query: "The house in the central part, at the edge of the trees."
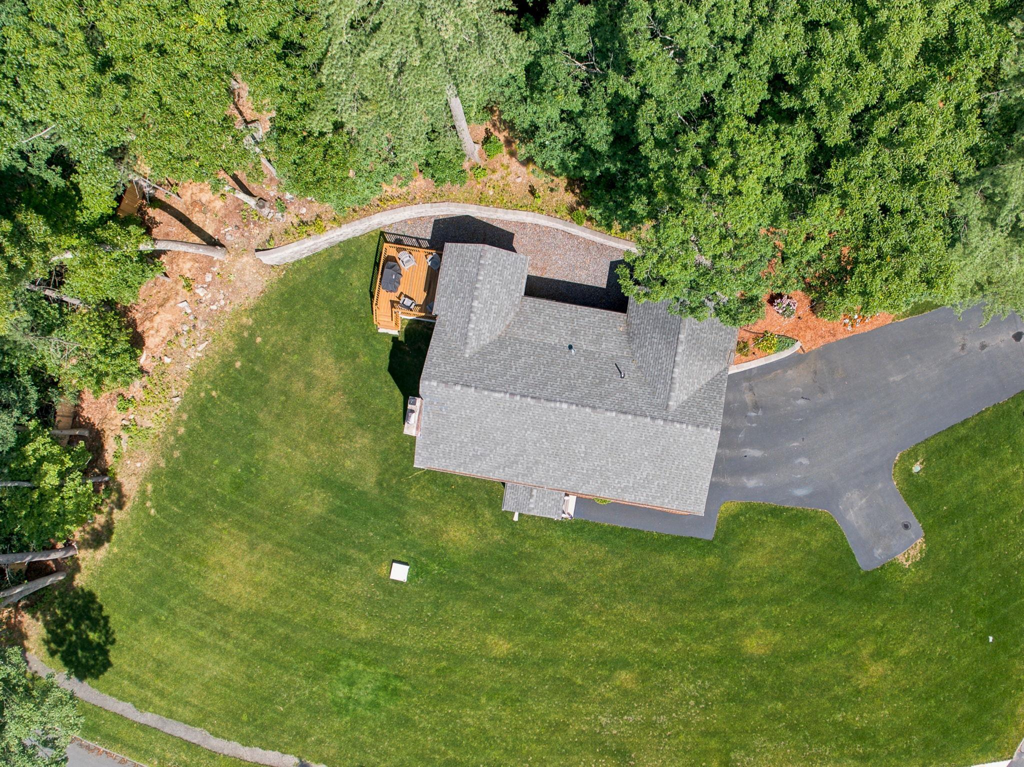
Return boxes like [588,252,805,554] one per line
[403,243,742,520]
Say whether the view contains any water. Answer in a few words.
No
